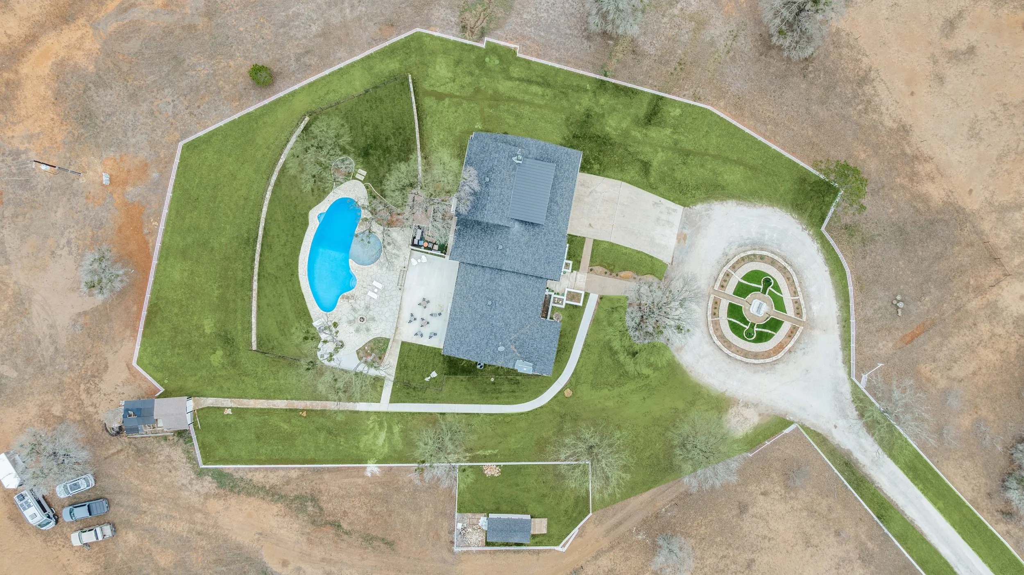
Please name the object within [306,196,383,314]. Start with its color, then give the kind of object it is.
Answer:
blue swimming pool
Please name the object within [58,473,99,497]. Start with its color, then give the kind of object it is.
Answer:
white car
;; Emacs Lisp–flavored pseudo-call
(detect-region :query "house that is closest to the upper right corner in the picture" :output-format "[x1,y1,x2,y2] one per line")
[441,131,583,376]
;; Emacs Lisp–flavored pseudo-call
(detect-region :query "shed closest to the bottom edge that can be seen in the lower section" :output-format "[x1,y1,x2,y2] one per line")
[487,514,531,543]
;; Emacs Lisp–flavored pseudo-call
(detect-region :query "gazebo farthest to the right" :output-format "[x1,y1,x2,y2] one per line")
[750,299,771,317]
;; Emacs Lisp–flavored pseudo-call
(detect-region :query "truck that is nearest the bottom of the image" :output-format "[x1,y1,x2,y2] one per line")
[71,521,121,550]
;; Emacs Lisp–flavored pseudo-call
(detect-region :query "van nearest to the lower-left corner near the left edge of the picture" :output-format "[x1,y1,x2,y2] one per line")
[12,483,61,532]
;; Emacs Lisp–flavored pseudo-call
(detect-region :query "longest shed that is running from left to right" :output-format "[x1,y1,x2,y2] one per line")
[117,396,194,436]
